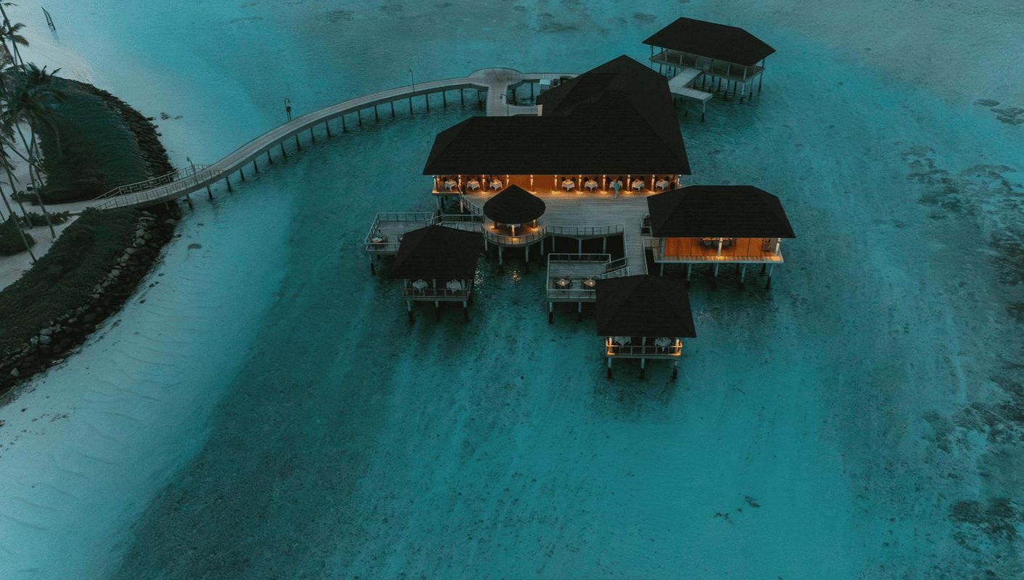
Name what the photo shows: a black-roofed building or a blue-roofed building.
black-roofed building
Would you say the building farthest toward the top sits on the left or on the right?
right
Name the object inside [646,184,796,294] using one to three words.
building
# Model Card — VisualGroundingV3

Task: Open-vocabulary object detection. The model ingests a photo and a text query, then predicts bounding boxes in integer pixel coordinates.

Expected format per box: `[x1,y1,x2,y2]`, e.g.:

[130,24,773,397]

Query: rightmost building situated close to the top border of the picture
[642,16,773,105]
